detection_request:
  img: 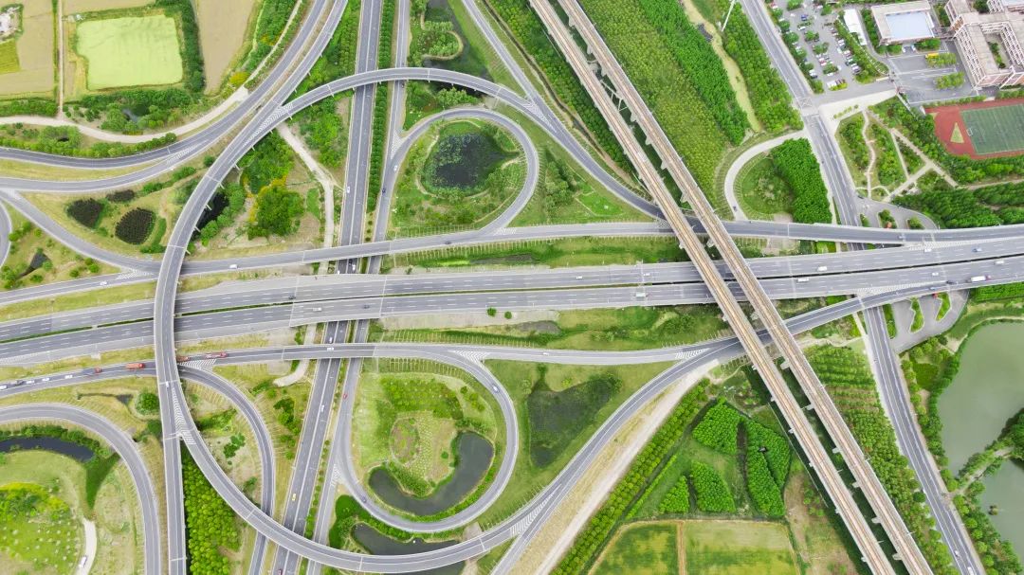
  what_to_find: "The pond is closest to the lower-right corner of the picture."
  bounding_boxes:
[528,374,619,468]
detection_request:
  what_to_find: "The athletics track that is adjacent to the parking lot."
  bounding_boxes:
[924,97,1024,160]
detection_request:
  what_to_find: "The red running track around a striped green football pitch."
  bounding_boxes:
[924,97,1024,160]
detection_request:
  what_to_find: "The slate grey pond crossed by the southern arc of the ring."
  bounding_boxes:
[354,526,466,575]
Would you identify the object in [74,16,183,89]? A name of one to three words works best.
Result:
pond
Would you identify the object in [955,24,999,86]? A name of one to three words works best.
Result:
building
